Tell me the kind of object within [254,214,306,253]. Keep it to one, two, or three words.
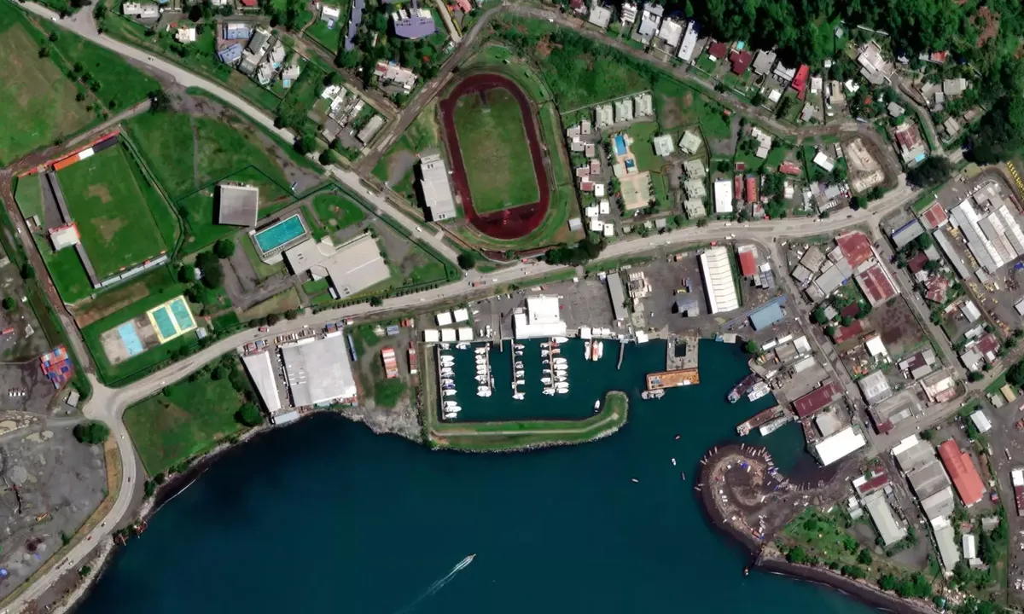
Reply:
swimming pool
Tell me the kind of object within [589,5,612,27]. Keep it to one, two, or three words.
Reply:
house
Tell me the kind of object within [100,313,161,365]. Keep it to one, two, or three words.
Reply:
sports court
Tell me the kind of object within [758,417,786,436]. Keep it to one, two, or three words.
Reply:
ship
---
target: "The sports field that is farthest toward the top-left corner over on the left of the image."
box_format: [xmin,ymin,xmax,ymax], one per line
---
[56,138,167,281]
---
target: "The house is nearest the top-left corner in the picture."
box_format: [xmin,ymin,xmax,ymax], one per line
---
[123,4,158,17]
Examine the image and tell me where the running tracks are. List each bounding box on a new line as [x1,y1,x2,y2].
[444,72,550,239]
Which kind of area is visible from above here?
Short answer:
port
